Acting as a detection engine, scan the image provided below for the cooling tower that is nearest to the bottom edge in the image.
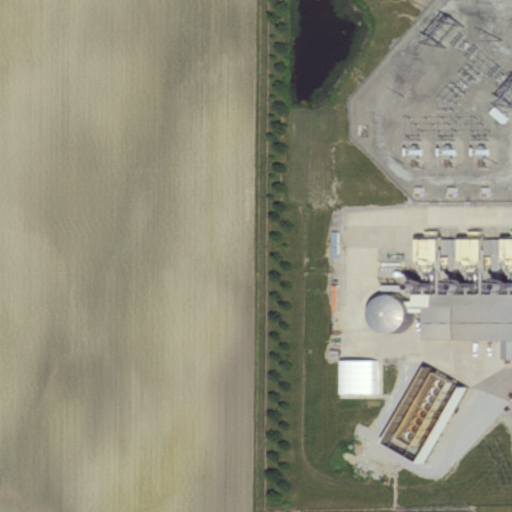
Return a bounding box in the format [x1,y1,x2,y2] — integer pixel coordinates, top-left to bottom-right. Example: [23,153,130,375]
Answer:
[380,368,467,461]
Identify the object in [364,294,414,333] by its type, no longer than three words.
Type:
storage tank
